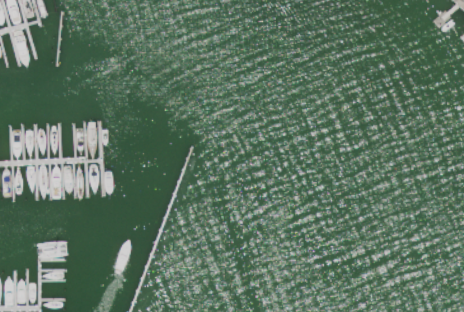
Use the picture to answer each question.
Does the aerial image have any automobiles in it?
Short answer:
No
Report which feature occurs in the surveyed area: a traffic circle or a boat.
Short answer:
boat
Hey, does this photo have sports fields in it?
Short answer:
No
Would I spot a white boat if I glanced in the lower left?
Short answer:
Yes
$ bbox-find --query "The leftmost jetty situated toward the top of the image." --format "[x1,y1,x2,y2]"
[0,0,42,68]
